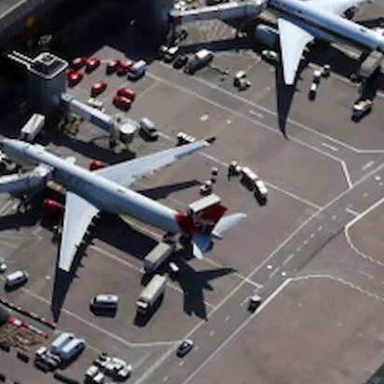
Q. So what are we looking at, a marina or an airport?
airport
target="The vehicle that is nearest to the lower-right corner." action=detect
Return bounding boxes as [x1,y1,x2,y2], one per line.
[248,296,261,308]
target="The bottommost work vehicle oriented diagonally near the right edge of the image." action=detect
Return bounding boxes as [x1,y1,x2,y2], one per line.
[348,99,376,122]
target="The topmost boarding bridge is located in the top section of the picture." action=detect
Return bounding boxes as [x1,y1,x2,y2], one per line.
[165,0,272,41]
